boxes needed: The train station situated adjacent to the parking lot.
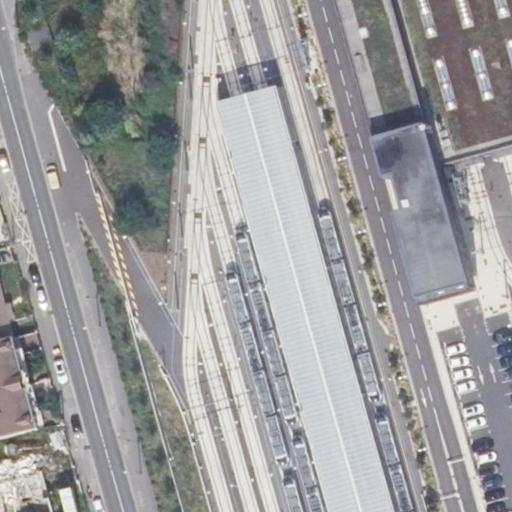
[218,86,398,512]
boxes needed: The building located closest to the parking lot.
[372,124,469,302]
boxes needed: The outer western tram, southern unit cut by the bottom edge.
[284,478,305,512]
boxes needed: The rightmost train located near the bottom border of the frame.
[377,414,416,512]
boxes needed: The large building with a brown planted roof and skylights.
[399,0,512,162]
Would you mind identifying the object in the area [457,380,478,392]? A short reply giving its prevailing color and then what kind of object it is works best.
white vehicle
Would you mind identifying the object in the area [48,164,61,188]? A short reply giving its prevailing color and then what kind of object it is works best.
white vehicle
